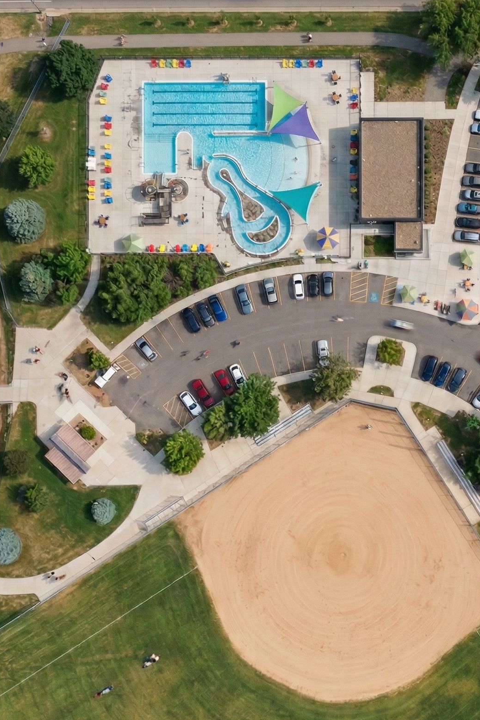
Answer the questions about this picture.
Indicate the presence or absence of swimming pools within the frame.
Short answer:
Yes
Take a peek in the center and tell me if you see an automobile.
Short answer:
Yes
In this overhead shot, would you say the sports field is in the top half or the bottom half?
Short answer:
bottom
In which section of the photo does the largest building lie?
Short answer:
top right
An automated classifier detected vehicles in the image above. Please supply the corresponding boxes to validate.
[193,380,213,405]
[449,367,466,393]
[463,188,480,200]
[470,122,480,135]
[230,364,246,386]
[307,274,319,297]
[183,307,201,333]
[474,394,480,407]
[434,362,451,387]
[208,293,227,323]
[464,177,480,187]
[422,356,439,382]
[457,201,480,213]
[136,335,155,361]
[237,286,253,313]
[454,229,480,241]
[456,216,480,228]
[390,318,415,332]
[462,161,480,172]
[293,274,304,299]
[215,370,231,393]
[322,272,334,297]
[197,302,214,327]
[474,110,480,120]
[263,275,279,306]
[181,391,201,415]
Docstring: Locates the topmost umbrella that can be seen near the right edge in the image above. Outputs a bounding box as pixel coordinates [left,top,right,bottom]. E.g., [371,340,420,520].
[457,250,475,266]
